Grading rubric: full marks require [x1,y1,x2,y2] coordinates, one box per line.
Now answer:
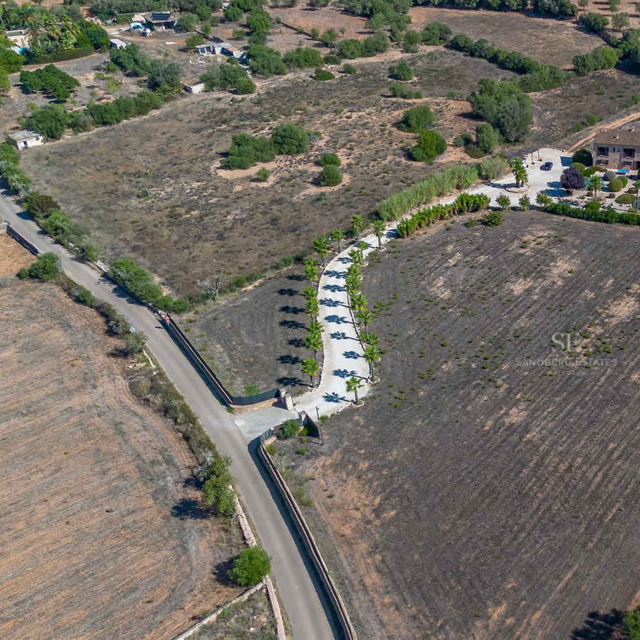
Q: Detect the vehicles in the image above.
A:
[542,161,554,171]
[514,158,534,168]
